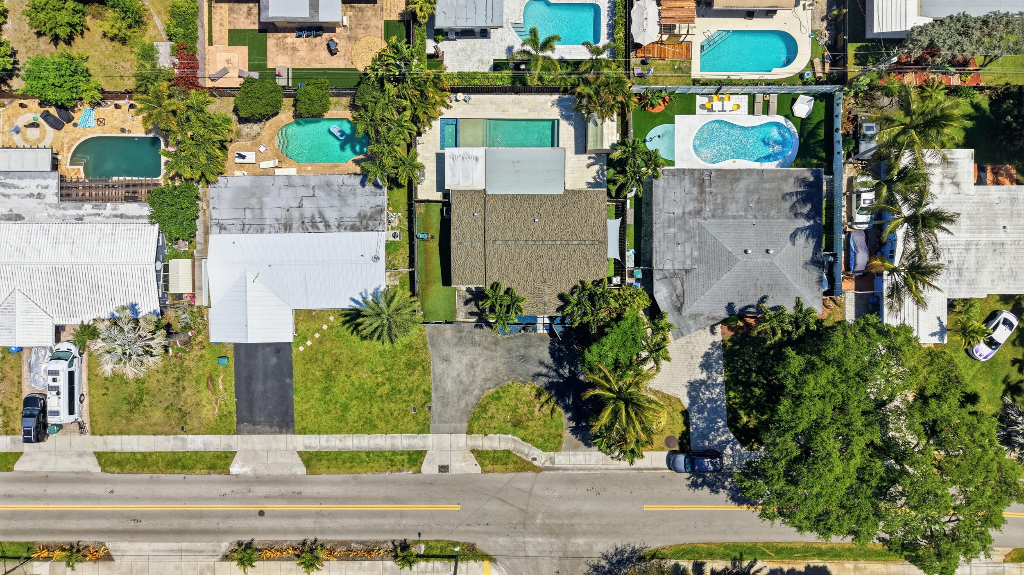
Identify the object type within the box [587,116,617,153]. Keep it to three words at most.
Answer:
shed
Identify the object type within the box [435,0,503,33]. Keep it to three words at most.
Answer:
house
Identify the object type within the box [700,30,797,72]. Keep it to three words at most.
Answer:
swimming pool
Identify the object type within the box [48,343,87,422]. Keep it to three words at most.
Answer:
van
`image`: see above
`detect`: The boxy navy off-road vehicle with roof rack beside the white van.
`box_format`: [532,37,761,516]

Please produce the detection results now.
[19,392,50,445]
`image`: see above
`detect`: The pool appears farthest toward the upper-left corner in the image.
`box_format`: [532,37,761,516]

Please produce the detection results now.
[67,134,164,183]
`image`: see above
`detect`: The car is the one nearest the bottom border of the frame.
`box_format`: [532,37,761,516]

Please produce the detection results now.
[666,450,720,476]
